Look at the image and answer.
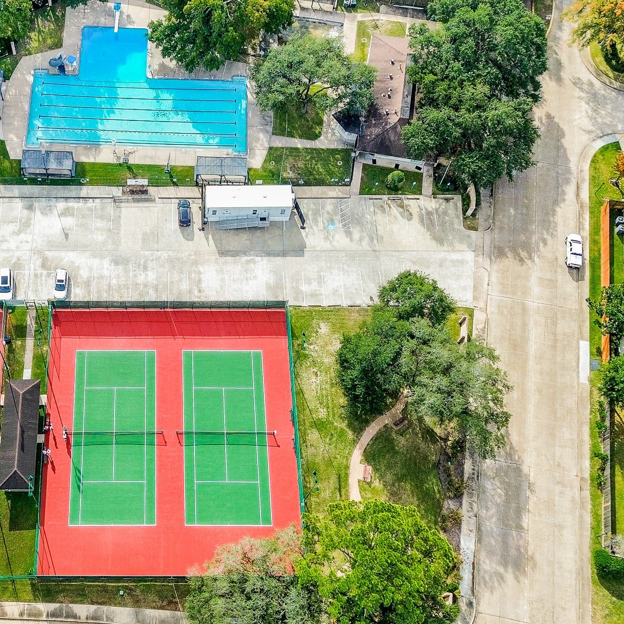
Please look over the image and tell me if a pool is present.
Yes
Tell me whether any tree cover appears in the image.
Yes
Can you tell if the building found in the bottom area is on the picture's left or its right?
left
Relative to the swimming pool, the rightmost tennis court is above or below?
below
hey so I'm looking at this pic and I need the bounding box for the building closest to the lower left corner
[0,379,46,491]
